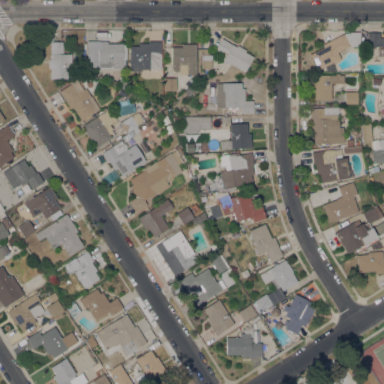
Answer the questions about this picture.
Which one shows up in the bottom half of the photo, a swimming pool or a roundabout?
swimming pool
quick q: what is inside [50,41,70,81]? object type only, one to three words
house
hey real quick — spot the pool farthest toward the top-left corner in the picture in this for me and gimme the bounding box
[119,100,137,116]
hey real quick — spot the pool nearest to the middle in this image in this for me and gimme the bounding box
[198,158,217,170]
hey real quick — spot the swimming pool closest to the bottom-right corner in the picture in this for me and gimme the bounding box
[271,326,292,348]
